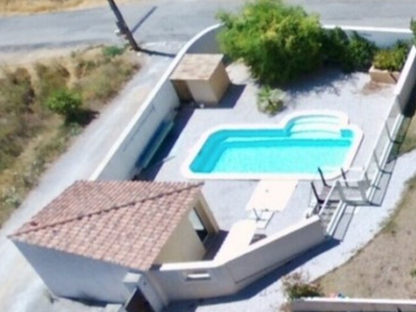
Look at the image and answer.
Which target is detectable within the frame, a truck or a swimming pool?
swimming pool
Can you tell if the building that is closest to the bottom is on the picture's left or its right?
left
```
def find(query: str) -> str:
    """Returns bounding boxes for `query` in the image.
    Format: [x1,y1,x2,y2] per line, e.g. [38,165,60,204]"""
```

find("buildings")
[161,46,231,105]
[3,172,222,307]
